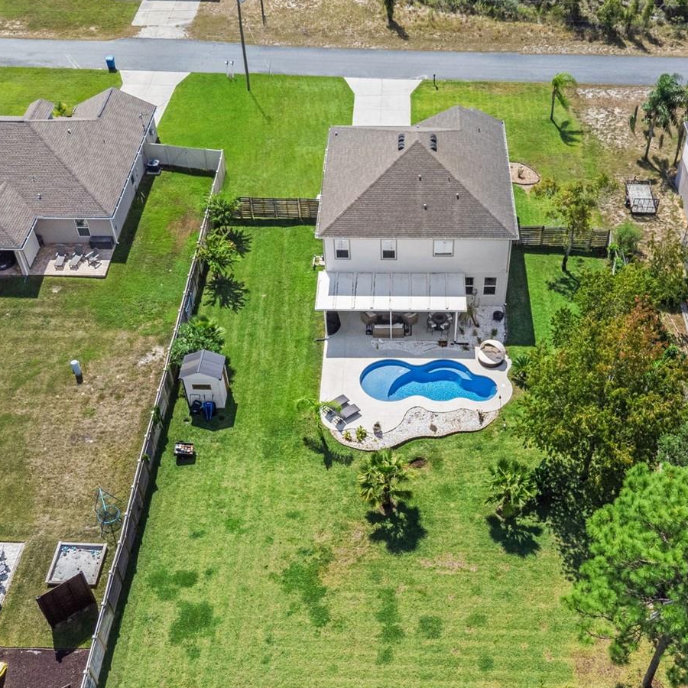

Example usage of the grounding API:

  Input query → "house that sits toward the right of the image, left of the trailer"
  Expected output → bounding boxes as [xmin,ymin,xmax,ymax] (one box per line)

[314,100,522,339]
